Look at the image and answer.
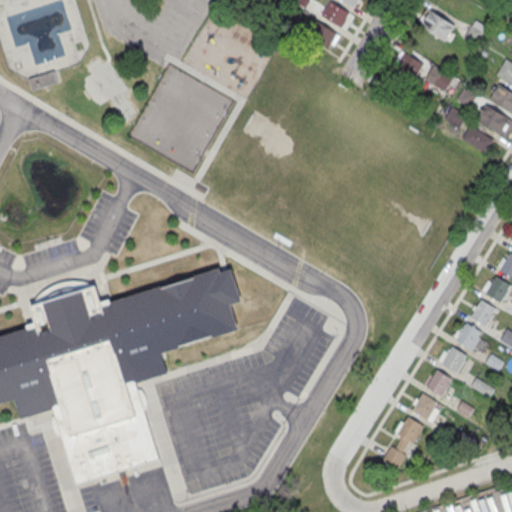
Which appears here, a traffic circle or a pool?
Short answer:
pool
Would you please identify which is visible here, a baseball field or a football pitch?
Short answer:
baseball field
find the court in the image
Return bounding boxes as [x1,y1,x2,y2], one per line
[133,66,233,170]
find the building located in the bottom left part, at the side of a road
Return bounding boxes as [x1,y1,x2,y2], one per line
[0,266,240,484]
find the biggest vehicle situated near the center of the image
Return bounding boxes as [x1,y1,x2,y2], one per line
[274,233,292,247]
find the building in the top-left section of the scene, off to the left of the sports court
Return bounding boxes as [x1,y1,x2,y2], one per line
[30,70,60,90]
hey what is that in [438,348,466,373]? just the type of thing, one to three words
house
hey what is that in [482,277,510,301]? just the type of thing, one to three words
house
